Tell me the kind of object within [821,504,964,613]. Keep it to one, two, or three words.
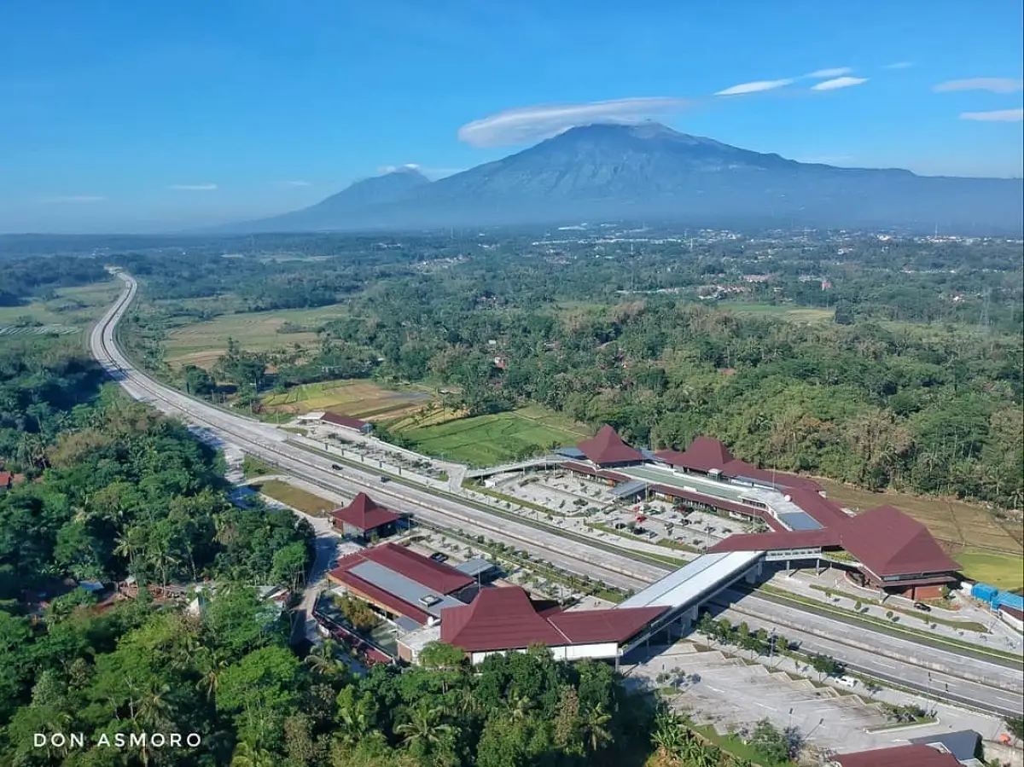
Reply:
building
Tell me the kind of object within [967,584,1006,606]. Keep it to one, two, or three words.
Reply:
shed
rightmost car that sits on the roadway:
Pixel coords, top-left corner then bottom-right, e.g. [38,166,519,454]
[835,672,858,685]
